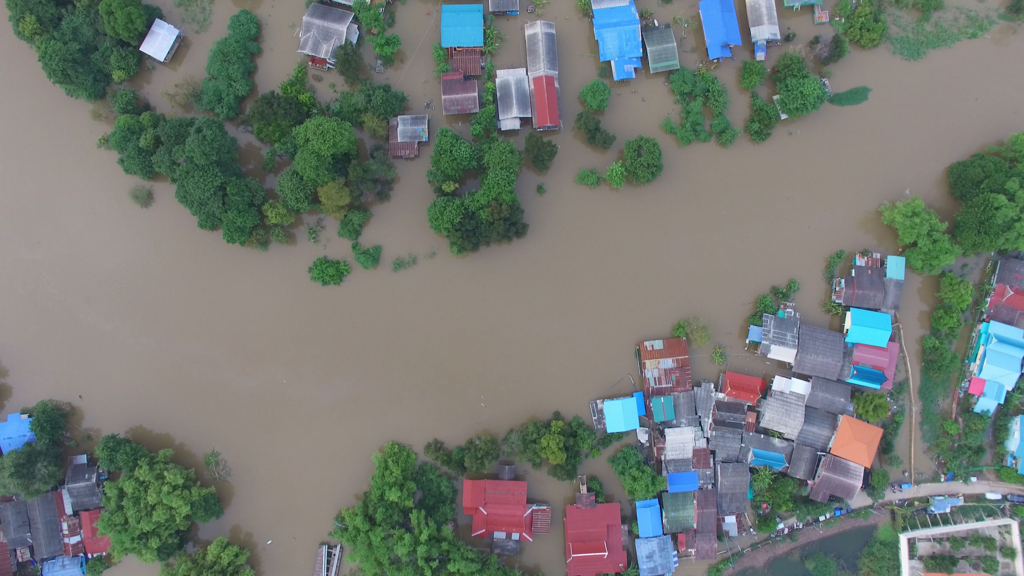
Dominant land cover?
water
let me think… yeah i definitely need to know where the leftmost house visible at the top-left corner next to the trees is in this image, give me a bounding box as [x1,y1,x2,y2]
[140,22,188,66]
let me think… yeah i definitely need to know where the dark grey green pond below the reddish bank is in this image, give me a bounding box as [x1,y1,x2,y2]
[735,522,877,576]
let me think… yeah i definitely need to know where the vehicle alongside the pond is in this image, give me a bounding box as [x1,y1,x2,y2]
[834,506,854,520]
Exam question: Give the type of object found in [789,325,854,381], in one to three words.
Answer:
house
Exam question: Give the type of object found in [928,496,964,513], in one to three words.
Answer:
shed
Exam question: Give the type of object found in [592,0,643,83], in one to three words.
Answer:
house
